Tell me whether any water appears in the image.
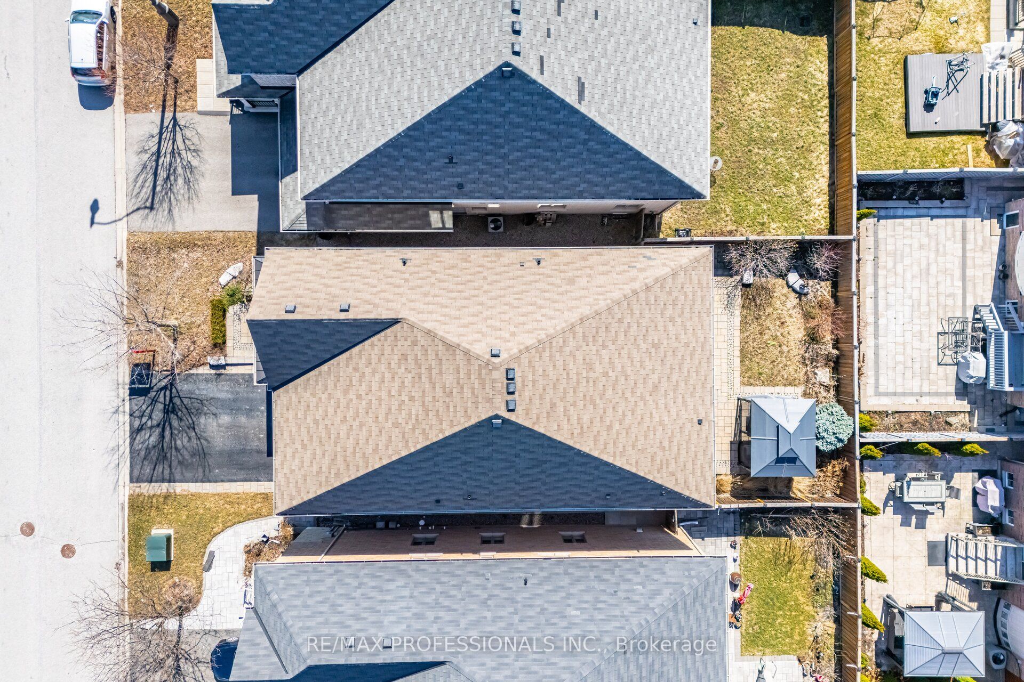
No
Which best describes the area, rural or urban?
urban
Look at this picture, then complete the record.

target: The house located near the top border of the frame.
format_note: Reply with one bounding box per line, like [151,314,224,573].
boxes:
[207,0,717,233]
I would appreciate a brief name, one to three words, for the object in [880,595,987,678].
gazebo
